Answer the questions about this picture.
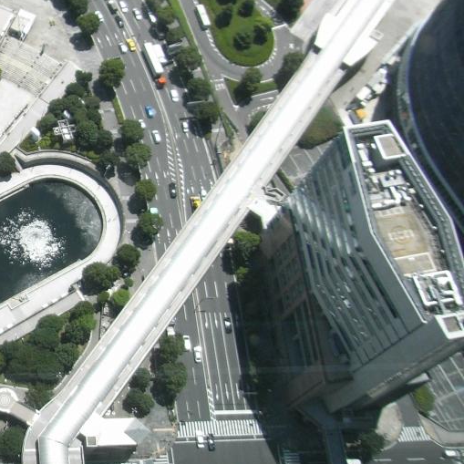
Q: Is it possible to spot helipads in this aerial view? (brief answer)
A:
Yes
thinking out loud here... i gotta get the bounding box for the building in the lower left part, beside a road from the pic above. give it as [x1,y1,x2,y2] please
[79,414,146,450]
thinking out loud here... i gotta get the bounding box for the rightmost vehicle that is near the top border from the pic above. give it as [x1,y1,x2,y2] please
[194,1,213,33]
